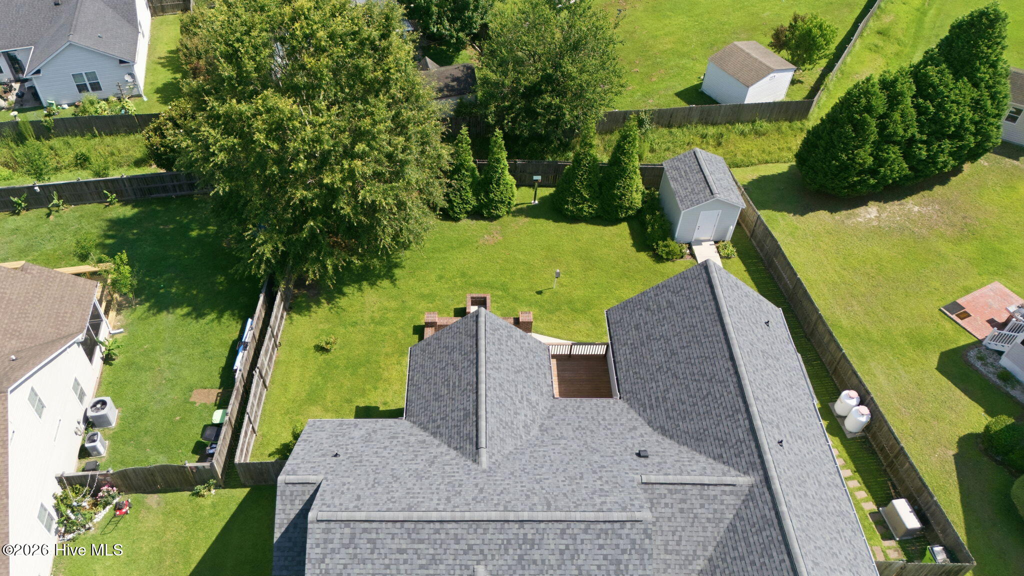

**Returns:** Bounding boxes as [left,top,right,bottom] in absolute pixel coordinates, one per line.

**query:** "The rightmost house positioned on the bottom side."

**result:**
[976,316,1024,382]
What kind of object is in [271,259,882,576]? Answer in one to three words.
house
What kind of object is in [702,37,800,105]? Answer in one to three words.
shed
